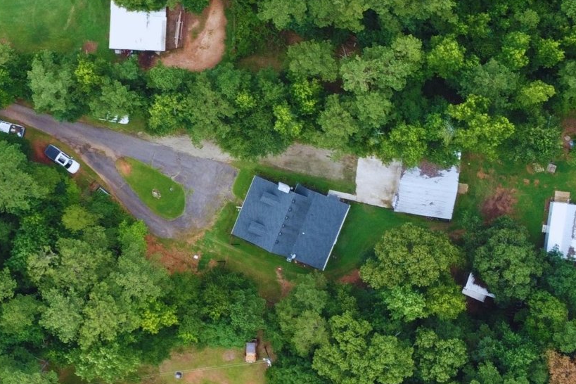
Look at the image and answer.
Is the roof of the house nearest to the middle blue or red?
blue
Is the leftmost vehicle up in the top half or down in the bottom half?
top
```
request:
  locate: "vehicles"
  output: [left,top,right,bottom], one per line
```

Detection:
[43,143,79,174]
[0,118,24,138]
[244,333,258,364]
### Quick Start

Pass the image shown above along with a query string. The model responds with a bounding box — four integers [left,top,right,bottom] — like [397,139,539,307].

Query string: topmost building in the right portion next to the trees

[395,151,462,219]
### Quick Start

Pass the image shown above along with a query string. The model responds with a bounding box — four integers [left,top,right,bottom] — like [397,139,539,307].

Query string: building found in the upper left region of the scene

[109,1,167,52]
